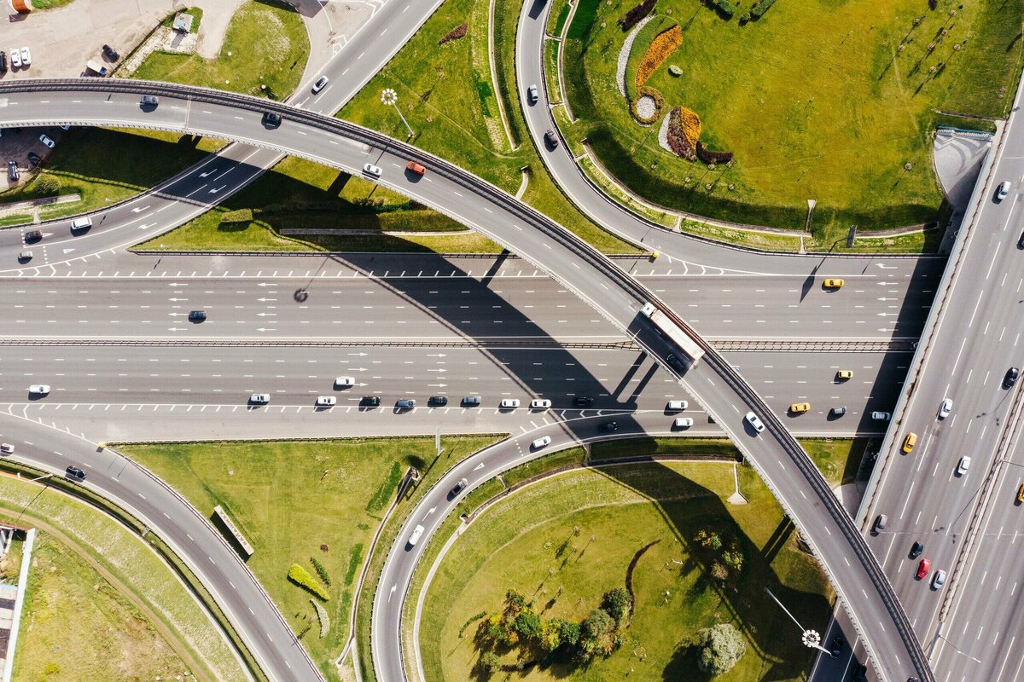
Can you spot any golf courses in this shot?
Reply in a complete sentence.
No, there is no golf course in the image.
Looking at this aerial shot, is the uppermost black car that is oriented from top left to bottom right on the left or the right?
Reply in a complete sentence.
You can find the uppermost black car that is oriented from top left to bottom right on the left side of the picture.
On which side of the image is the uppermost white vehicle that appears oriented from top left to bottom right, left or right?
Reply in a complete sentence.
It is on the left.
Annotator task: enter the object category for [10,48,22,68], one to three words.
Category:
vehicle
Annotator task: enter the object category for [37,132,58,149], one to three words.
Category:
car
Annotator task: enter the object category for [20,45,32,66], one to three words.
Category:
vehicle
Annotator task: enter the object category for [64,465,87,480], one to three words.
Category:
car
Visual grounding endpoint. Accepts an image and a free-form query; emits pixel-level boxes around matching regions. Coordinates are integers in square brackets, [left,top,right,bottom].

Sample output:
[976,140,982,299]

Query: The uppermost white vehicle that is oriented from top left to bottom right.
[83,57,111,77]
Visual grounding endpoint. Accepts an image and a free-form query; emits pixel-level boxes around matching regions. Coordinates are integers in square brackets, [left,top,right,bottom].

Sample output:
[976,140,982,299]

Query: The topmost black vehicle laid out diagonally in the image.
[100,43,121,63]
